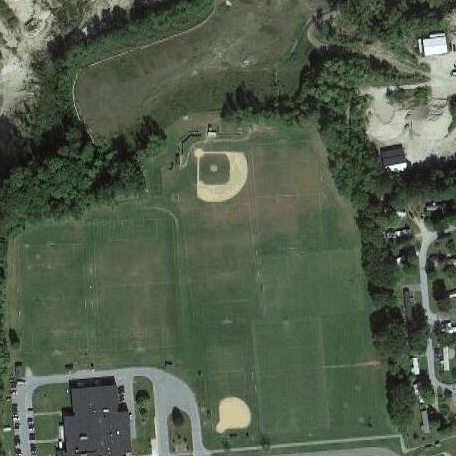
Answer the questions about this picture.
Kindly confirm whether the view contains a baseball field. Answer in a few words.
Yes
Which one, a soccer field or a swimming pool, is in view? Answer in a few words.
soccer field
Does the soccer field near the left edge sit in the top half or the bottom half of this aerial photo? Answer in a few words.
bottom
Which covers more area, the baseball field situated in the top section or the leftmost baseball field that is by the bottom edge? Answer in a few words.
the baseball field situated in the top section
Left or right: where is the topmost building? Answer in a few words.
right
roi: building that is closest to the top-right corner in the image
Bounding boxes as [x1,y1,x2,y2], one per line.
[417,32,447,56]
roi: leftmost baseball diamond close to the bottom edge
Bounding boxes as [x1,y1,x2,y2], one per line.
[213,397,250,437]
